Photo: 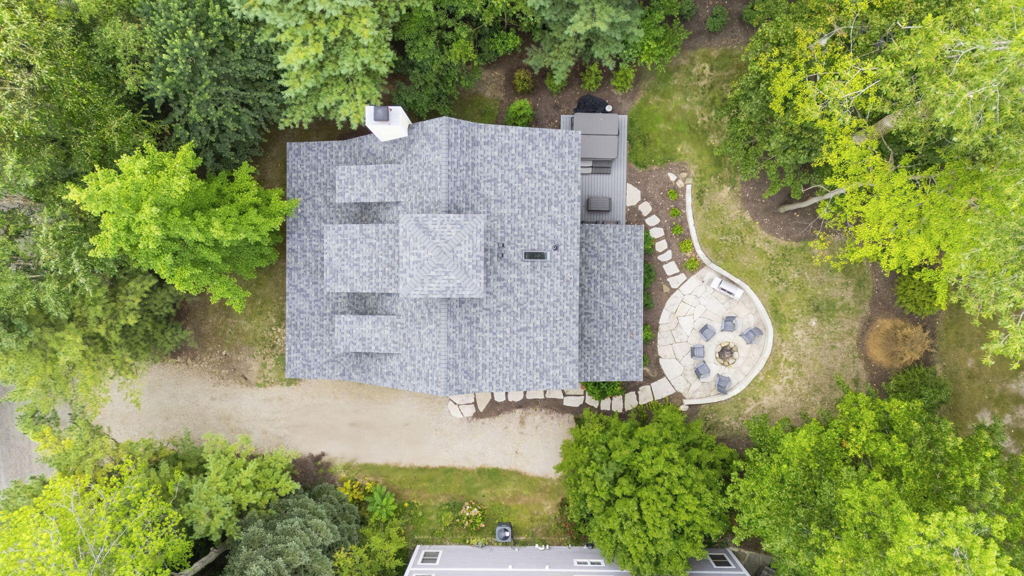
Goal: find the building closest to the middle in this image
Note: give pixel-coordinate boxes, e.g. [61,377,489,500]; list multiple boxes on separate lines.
[286,104,644,396]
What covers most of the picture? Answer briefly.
trees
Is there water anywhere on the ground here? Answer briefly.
No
